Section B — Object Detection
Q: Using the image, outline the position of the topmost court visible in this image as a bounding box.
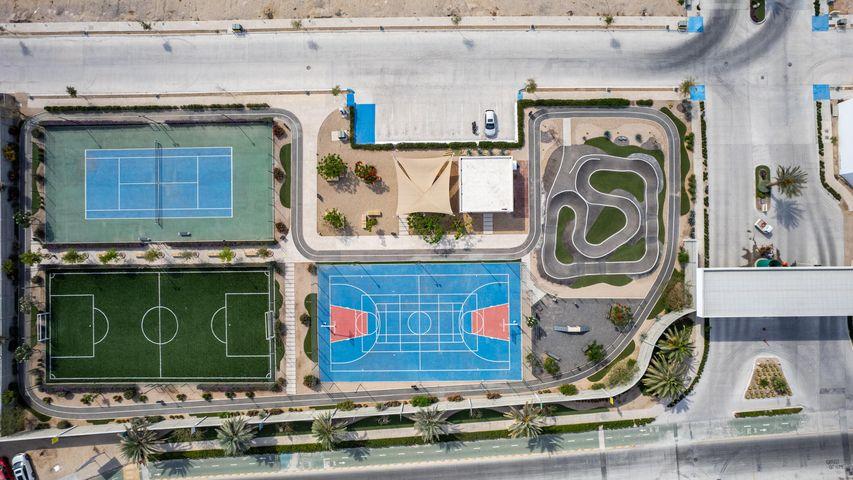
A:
[44,122,275,243]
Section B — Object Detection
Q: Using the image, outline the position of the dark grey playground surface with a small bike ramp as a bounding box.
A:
[532,294,643,381]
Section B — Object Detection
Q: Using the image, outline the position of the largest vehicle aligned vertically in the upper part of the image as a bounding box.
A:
[484,109,497,137]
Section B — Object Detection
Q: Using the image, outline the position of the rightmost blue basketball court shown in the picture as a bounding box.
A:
[317,262,522,382]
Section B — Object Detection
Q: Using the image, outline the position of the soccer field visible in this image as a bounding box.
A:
[46,263,275,384]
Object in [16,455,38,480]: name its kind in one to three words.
car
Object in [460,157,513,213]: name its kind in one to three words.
building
